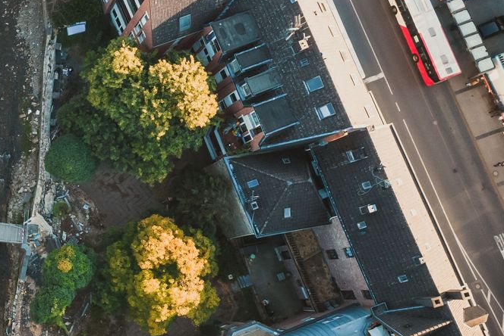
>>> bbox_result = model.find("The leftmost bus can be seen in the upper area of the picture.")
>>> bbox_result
[391,0,459,84]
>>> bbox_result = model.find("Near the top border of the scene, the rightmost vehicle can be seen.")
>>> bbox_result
[474,15,504,39]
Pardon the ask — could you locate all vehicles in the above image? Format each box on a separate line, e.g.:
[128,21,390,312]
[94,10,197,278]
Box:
[391,0,459,84]
[474,15,504,39]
